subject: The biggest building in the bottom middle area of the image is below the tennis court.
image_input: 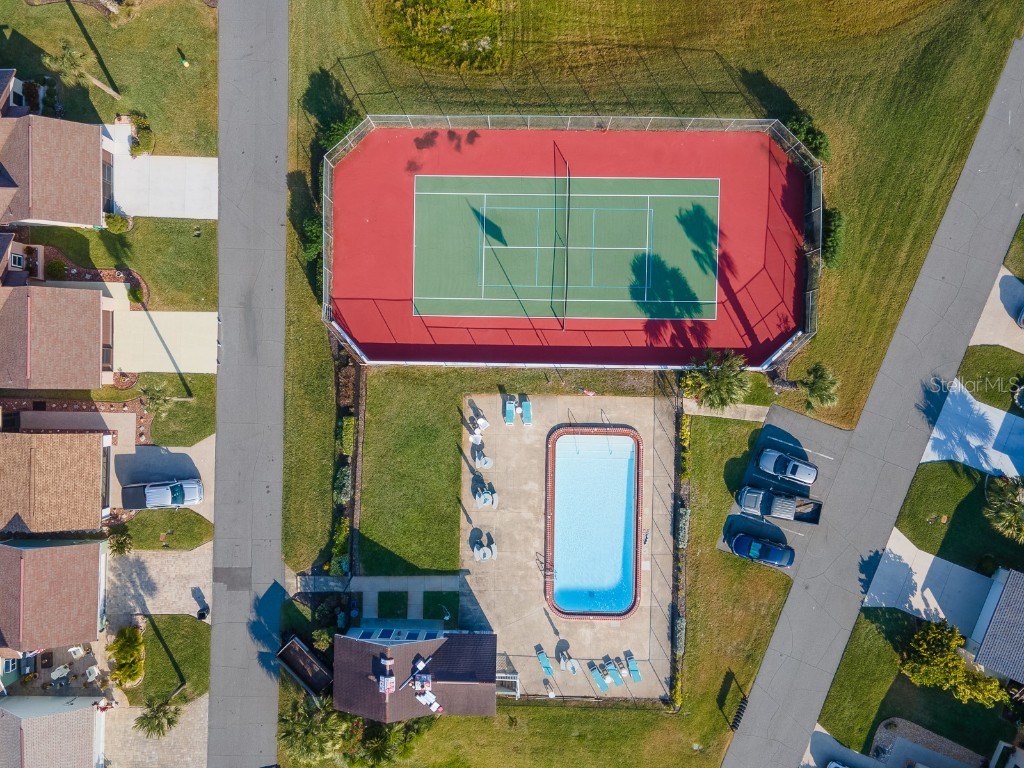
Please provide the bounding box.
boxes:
[334,628,497,722]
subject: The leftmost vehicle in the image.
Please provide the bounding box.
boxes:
[121,477,204,510]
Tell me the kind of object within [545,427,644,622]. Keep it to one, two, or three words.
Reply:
swimming pool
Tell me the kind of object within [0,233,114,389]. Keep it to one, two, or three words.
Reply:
house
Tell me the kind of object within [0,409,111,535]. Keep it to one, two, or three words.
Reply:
house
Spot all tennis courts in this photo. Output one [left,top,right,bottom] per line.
[331,128,806,363]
